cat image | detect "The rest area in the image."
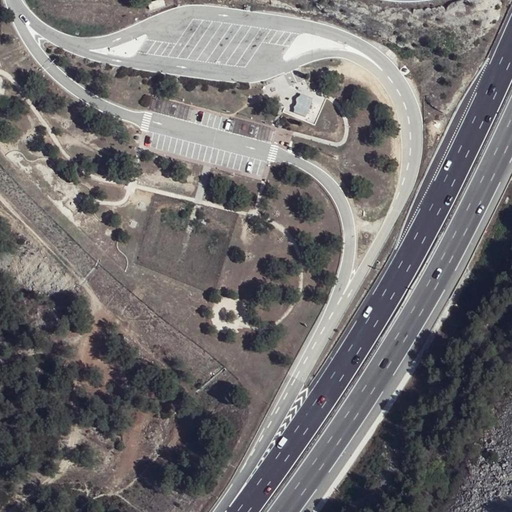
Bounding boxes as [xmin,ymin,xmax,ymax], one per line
[28,19,382,176]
